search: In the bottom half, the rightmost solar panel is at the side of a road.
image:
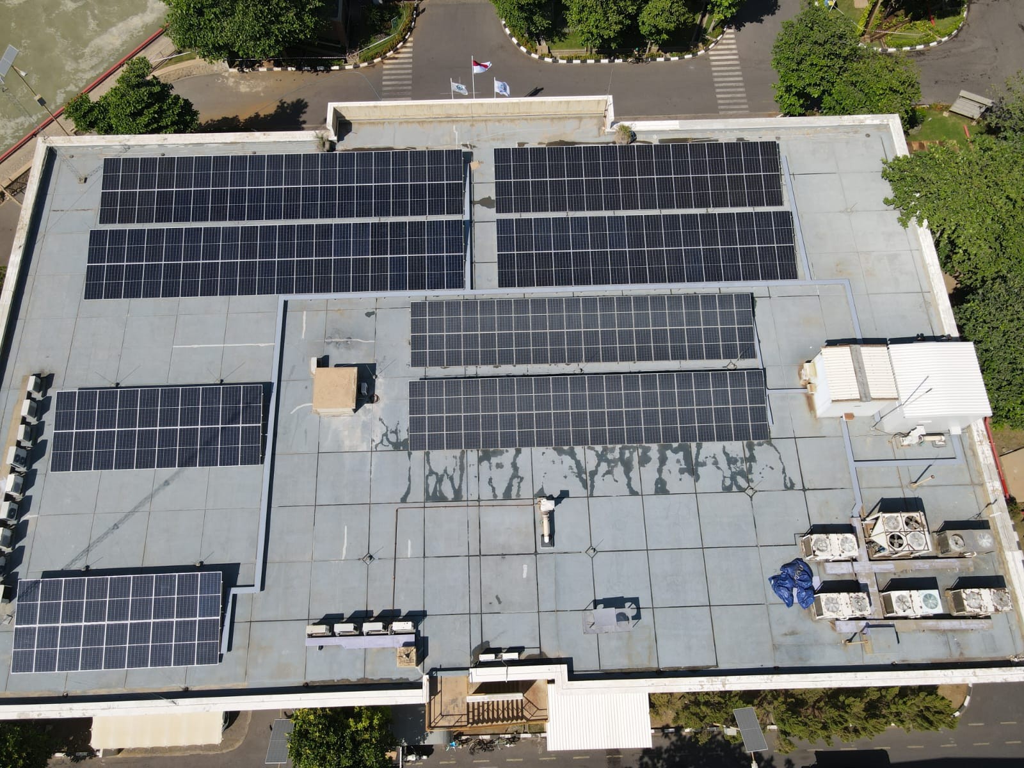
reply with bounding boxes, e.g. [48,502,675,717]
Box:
[733,706,768,752]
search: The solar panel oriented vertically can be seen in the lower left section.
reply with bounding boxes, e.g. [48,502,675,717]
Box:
[265,719,294,763]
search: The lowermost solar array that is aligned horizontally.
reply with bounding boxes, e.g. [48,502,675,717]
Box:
[11,572,229,673]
